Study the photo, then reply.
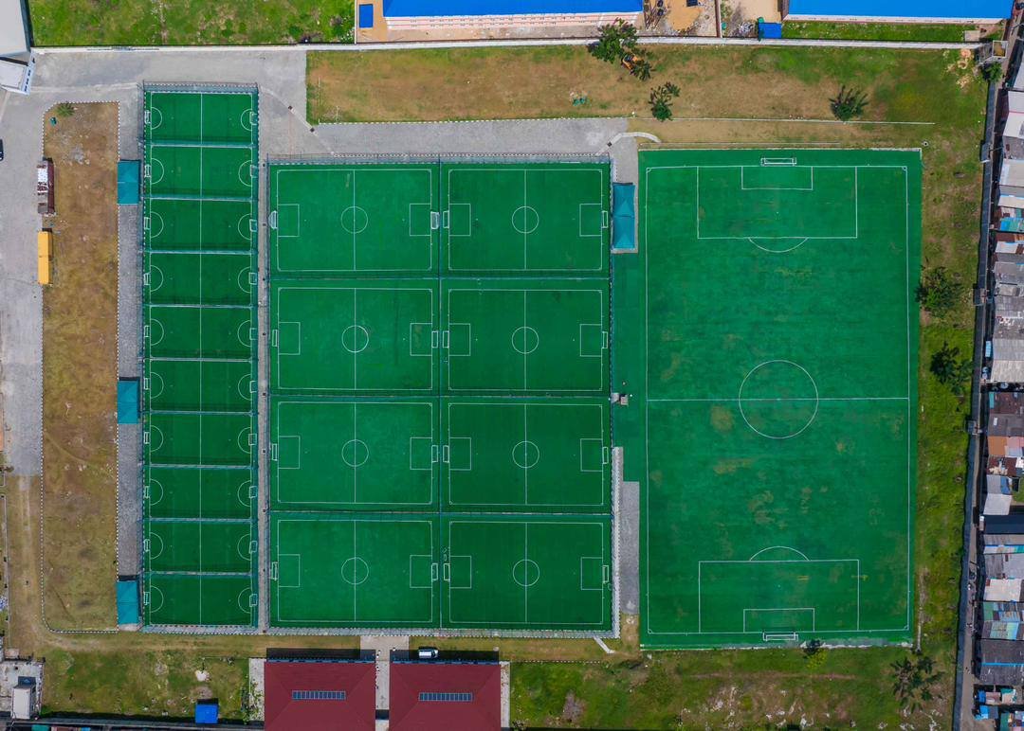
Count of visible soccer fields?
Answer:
19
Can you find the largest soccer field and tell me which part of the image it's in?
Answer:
right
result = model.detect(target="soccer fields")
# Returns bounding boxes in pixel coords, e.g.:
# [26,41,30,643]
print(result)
[440,164,611,276]
[145,93,258,145]
[145,412,258,466]
[270,164,439,278]
[145,465,258,519]
[145,251,258,305]
[440,278,611,396]
[145,198,258,252]
[270,279,439,396]
[145,518,256,572]
[440,397,611,513]
[270,397,439,513]
[270,514,439,628]
[612,147,922,651]
[145,358,258,412]
[145,572,258,626]
[145,144,258,199]
[145,305,258,359]
[440,513,611,628]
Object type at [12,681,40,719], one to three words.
building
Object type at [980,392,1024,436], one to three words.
house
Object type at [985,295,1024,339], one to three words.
house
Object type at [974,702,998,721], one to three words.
shed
